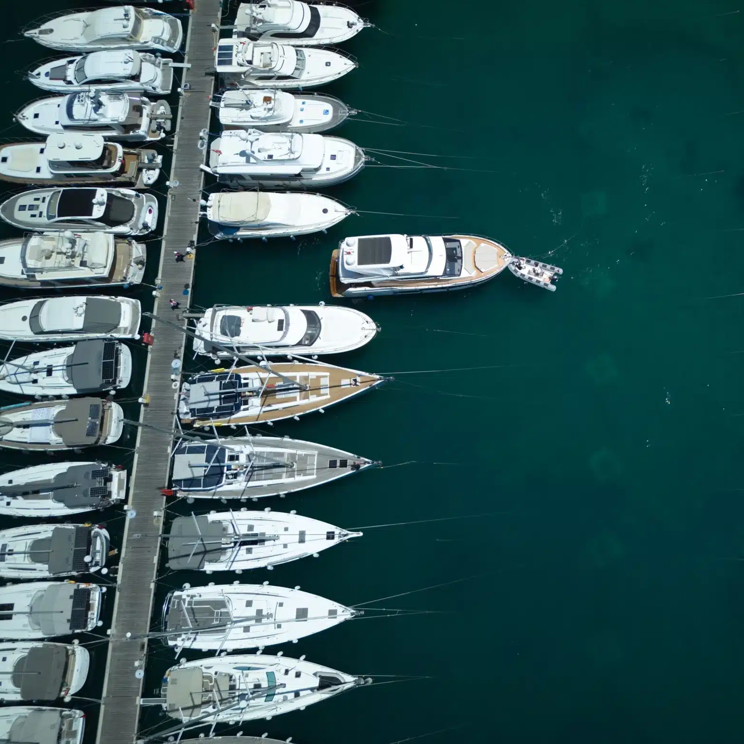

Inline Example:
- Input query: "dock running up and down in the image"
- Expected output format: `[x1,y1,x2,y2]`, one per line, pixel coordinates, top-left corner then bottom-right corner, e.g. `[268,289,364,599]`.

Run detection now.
[97,0,226,744]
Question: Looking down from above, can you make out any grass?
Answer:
No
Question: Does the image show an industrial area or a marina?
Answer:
marina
